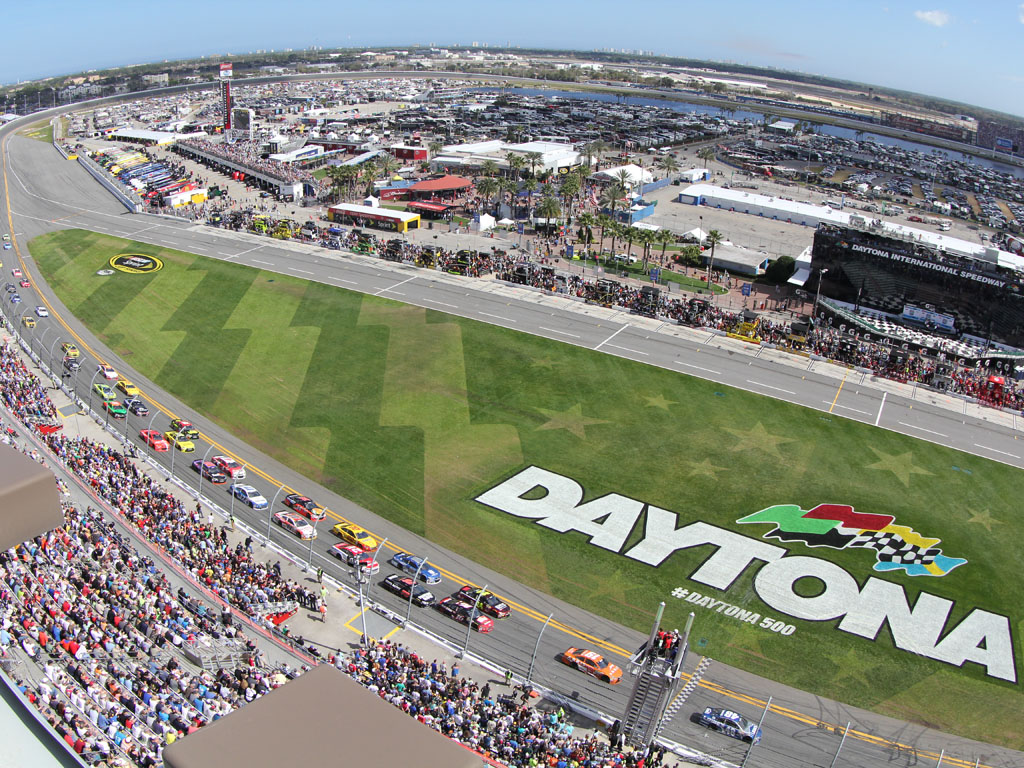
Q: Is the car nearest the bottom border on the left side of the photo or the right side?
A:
right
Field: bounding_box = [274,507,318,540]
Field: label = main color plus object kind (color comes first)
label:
white car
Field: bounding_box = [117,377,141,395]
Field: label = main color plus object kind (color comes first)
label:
yellow car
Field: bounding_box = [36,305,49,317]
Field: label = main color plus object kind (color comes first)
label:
white vehicle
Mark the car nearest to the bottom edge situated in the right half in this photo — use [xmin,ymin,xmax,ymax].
[692,702,758,744]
